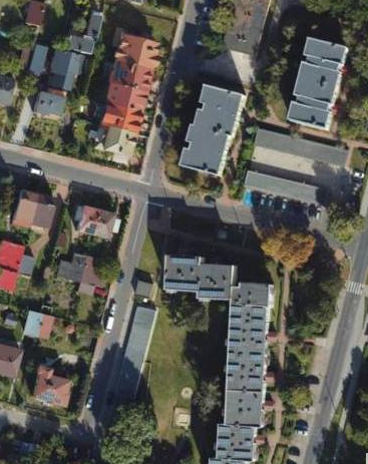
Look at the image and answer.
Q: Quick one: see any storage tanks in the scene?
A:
No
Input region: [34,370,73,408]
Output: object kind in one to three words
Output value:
house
